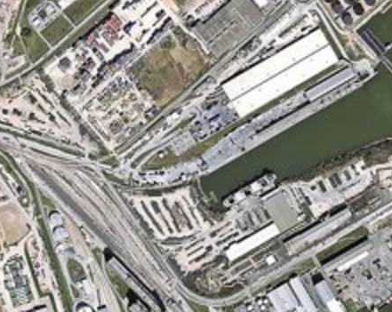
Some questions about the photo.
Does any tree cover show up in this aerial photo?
No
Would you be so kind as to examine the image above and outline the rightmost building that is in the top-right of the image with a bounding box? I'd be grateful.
[306,58,372,102]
